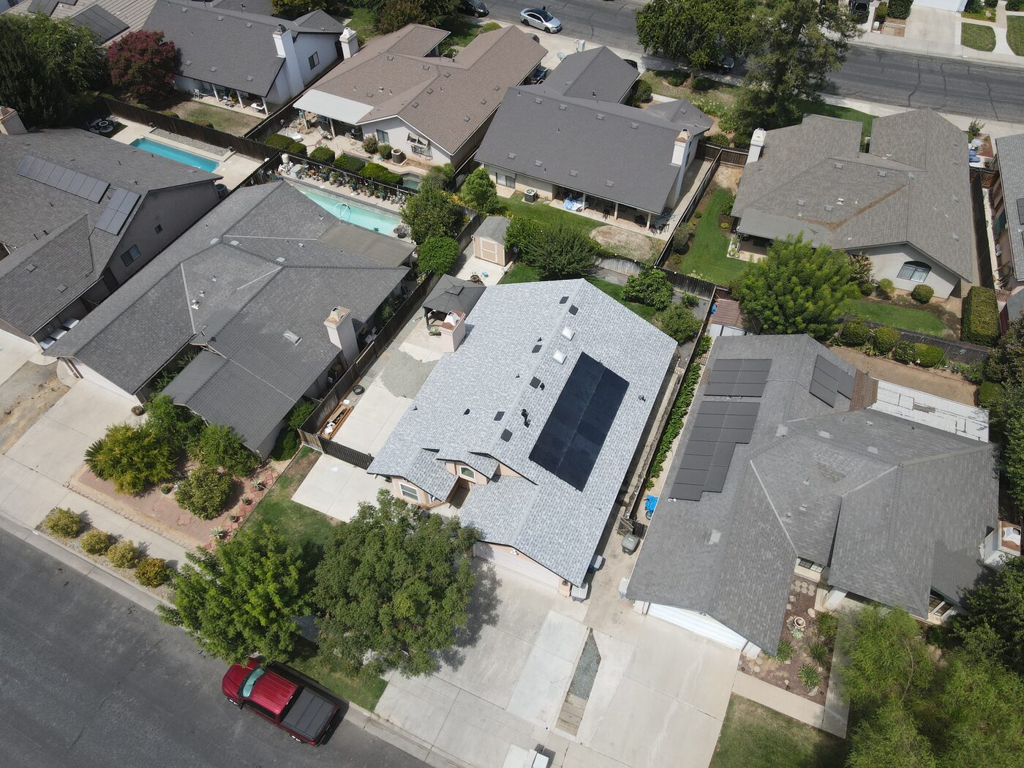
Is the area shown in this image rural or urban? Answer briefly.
urban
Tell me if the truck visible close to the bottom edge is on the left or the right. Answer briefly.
left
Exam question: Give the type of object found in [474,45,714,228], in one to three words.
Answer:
house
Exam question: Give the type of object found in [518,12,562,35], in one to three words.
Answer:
car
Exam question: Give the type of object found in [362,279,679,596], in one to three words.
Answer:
house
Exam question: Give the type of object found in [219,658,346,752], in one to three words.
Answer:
truck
